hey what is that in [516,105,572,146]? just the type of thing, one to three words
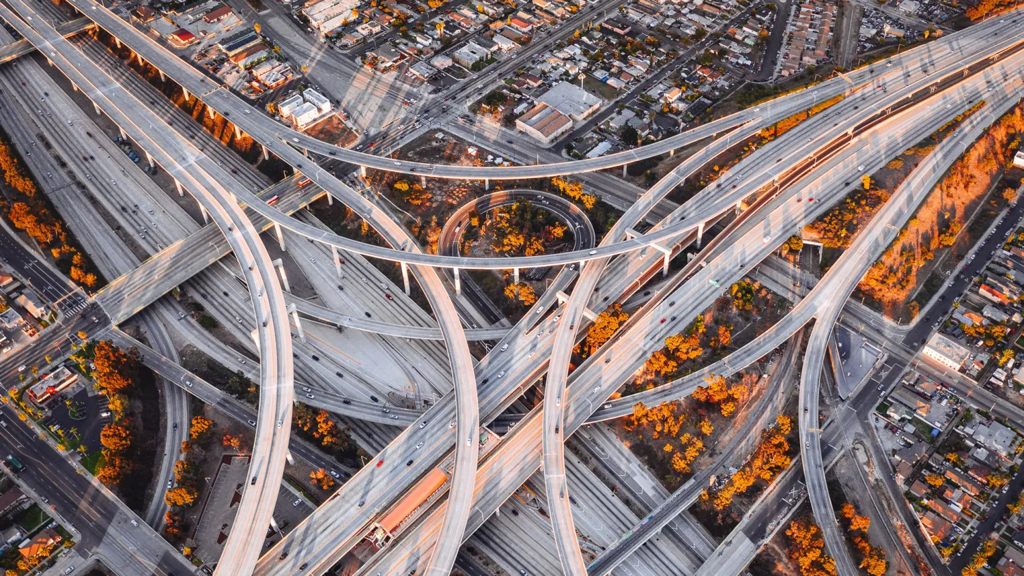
building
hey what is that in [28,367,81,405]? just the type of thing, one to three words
building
